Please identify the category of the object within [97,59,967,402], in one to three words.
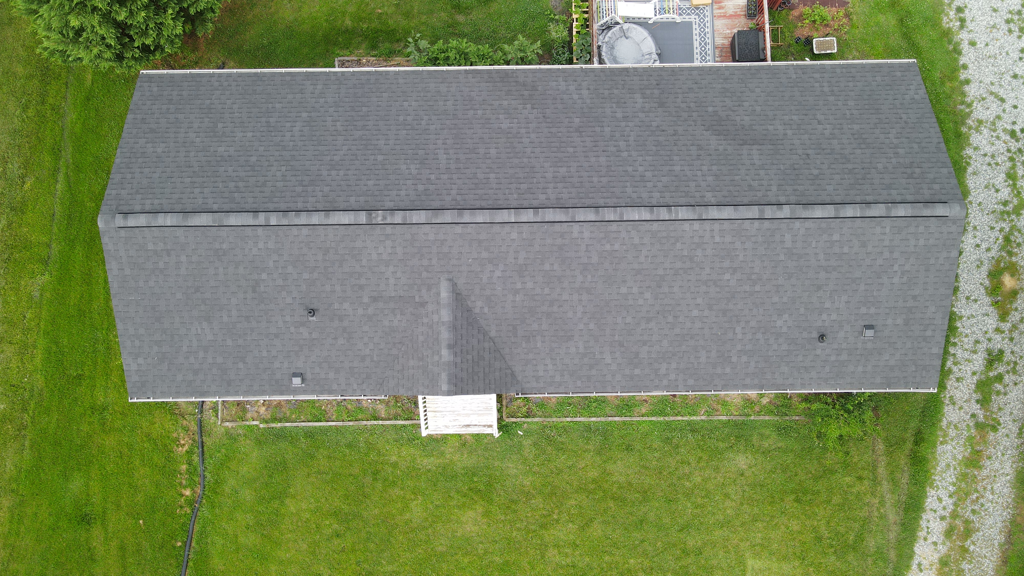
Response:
house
